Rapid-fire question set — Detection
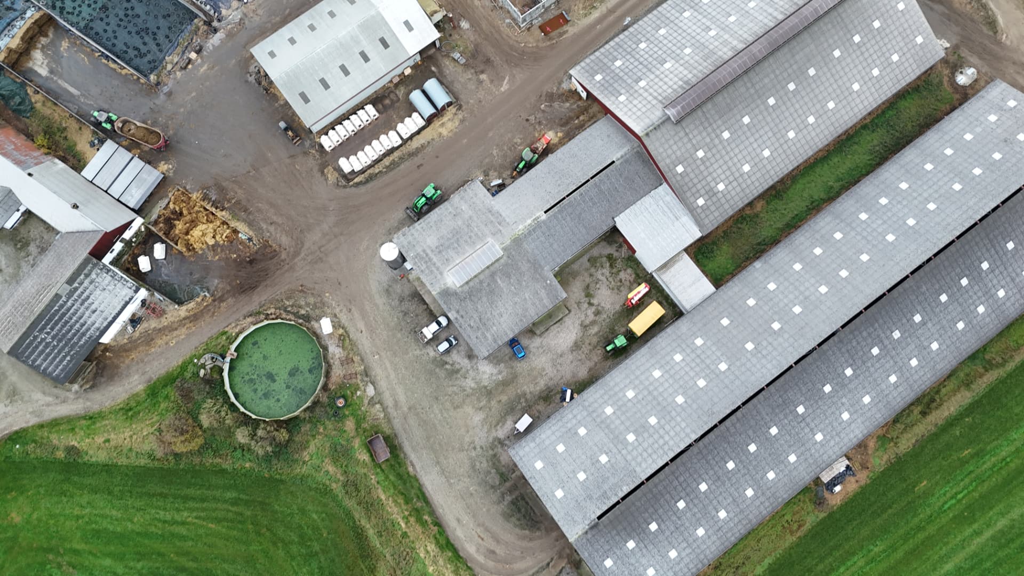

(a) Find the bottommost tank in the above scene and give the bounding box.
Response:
[224,320,328,421]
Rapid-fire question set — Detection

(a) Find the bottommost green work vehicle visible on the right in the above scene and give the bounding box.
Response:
[599,330,632,359]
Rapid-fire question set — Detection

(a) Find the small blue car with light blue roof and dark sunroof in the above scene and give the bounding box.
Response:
[508,336,528,361]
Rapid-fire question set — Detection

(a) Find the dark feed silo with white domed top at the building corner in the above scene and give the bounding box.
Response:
[381,243,413,273]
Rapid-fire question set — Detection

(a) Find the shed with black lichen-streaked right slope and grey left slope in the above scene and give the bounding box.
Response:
[0,230,145,387]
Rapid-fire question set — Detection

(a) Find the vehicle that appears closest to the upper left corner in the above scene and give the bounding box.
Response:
[87,108,120,132]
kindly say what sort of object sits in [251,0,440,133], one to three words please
barn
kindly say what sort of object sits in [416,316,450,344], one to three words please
truck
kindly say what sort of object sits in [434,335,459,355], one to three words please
car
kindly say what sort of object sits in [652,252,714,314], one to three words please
shed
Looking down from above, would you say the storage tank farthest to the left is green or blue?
green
